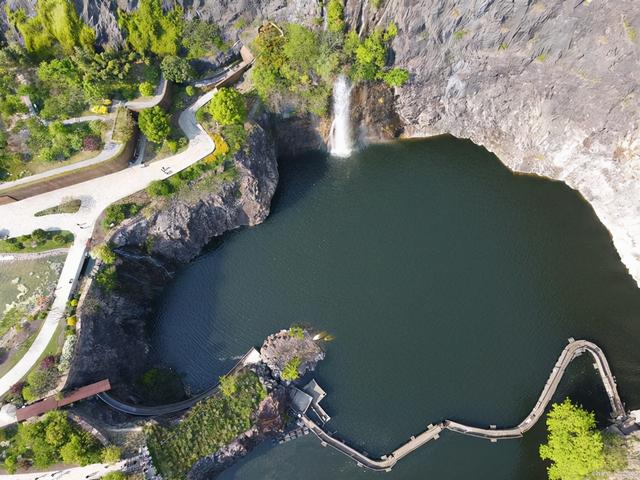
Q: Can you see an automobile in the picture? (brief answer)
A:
No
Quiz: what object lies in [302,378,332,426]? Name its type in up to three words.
pier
